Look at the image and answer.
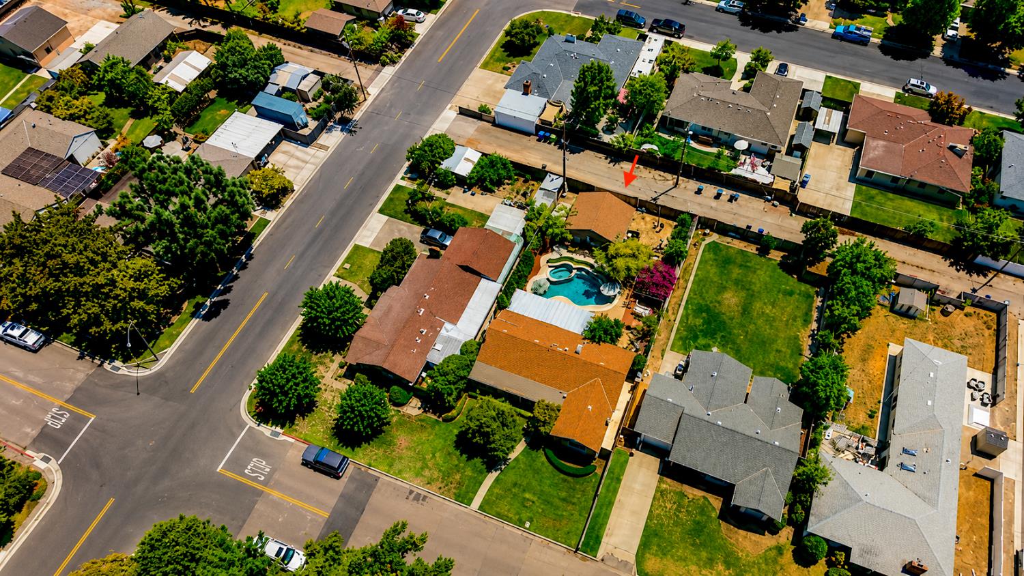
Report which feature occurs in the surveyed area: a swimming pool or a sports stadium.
swimming pool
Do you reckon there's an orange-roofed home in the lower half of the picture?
Yes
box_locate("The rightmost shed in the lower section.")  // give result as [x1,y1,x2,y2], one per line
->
[973,428,1009,457]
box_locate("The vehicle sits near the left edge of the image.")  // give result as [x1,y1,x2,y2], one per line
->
[1,325,44,352]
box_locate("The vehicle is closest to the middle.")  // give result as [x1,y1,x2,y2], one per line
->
[417,228,452,251]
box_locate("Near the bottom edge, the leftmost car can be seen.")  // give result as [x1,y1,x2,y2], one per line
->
[255,535,308,573]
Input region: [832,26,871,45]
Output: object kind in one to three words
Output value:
vehicle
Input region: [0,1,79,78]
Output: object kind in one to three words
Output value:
house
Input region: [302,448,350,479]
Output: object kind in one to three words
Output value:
car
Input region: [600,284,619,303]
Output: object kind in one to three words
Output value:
umbrella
